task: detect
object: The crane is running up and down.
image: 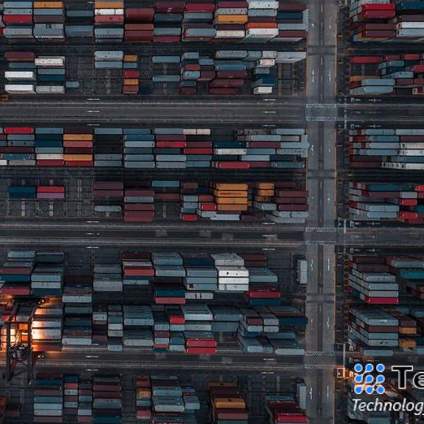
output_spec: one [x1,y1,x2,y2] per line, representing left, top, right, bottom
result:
[9,297,47,381]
